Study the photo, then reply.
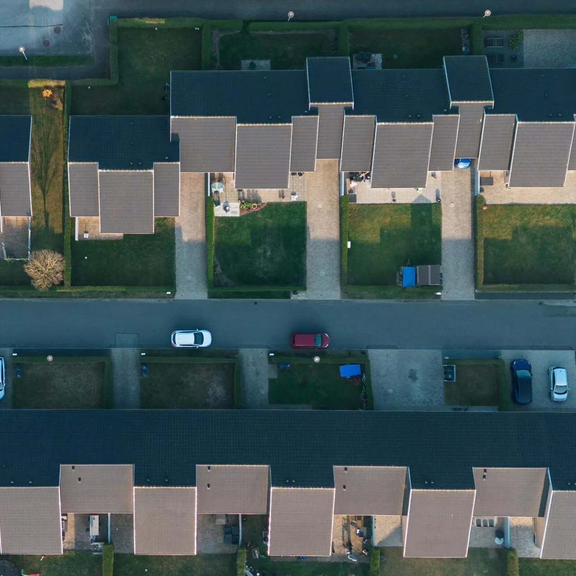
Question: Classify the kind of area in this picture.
residential area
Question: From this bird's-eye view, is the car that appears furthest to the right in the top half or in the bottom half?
bottom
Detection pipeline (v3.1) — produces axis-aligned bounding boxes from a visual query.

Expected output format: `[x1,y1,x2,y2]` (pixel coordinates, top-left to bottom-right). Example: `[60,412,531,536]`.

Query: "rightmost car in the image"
[550,367,572,401]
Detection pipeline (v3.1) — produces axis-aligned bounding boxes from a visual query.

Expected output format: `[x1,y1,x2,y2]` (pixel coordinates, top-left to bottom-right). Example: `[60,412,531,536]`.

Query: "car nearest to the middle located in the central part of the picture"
[291,331,329,350]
